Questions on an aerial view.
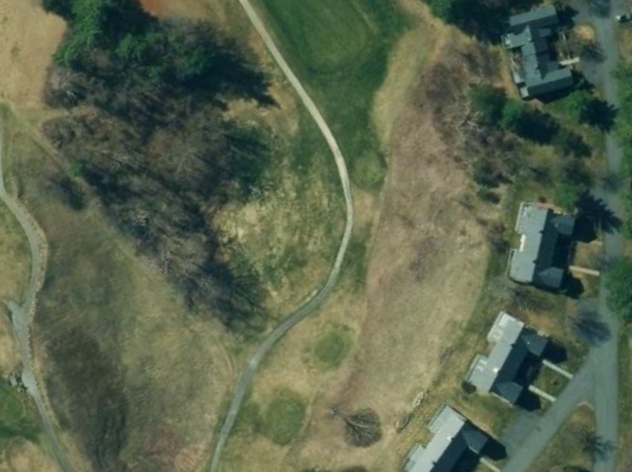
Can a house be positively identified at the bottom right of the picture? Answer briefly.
Yes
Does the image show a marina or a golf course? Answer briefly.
golf course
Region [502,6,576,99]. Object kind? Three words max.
house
